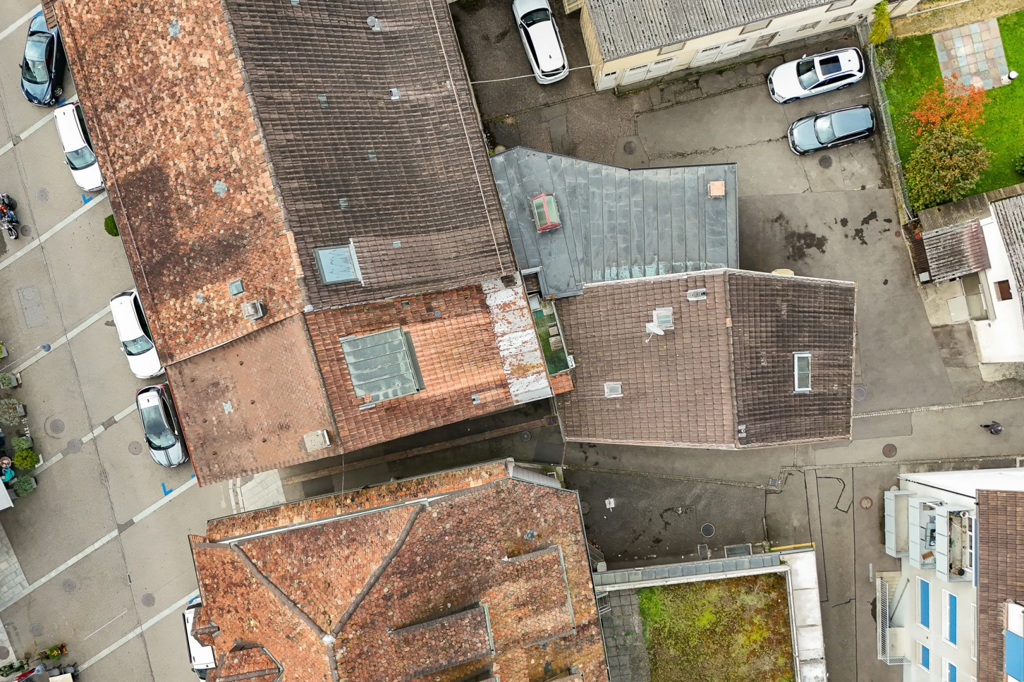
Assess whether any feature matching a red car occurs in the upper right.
No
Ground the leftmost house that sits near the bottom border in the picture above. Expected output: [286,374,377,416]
[186,452,618,682]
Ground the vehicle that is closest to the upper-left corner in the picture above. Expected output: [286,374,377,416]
[16,14,64,105]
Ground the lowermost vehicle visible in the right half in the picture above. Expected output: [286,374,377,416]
[788,105,877,155]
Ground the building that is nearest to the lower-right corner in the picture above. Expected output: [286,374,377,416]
[883,469,1024,682]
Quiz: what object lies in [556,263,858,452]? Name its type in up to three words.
house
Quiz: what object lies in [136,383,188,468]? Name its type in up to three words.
car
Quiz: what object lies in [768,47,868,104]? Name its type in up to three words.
car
